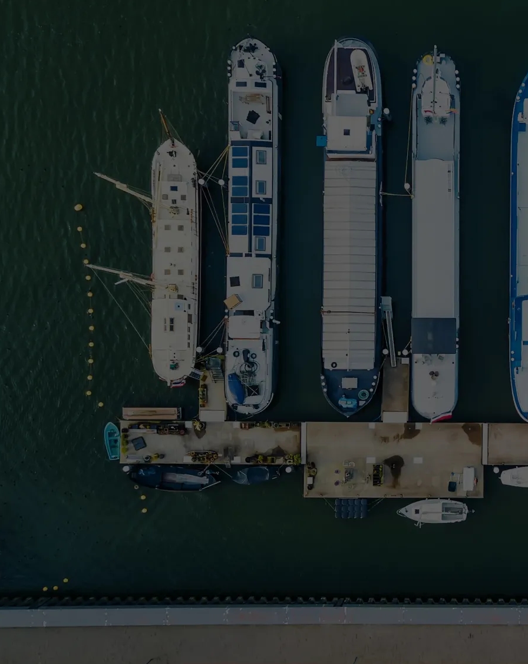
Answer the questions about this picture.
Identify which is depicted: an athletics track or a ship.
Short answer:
ship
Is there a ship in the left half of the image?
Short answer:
Yes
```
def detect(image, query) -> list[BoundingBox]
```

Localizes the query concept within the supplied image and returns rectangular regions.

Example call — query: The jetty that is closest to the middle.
[199,356,229,422]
